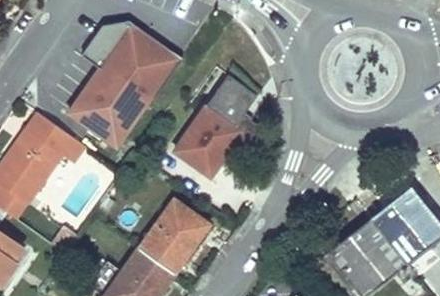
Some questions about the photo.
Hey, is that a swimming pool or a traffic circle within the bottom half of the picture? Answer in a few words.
swimming pool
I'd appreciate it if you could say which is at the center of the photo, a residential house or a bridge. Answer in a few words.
residential house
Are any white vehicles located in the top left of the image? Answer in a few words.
Yes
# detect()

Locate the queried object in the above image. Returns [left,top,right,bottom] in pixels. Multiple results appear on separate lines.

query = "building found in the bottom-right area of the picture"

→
[324,188,440,296]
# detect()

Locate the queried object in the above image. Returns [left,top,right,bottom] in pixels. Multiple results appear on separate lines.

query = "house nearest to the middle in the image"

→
[174,106,246,181]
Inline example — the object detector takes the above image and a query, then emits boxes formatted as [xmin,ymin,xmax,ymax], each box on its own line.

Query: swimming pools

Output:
[60,172,101,219]
[119,208,138,228]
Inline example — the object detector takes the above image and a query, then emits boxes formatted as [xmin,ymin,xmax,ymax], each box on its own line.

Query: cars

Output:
[78,13,96,34]
[334,18,355,33]
[269,10,289,29]
[424,84,440,100]
[399,18,421,31]
[160,153,180,171]
[14,13,33,33]
[176,0,192,18]
[242,252,258,274]
[180,176,200,194]
[250,0,270,14]
[36,0,45,11]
